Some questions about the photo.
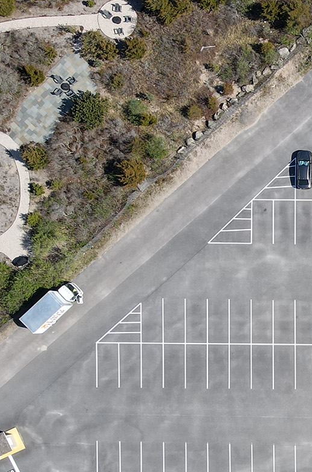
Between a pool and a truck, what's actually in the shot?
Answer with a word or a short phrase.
truck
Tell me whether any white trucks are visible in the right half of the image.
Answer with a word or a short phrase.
No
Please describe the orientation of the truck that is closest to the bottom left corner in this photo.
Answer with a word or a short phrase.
on a diagonal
